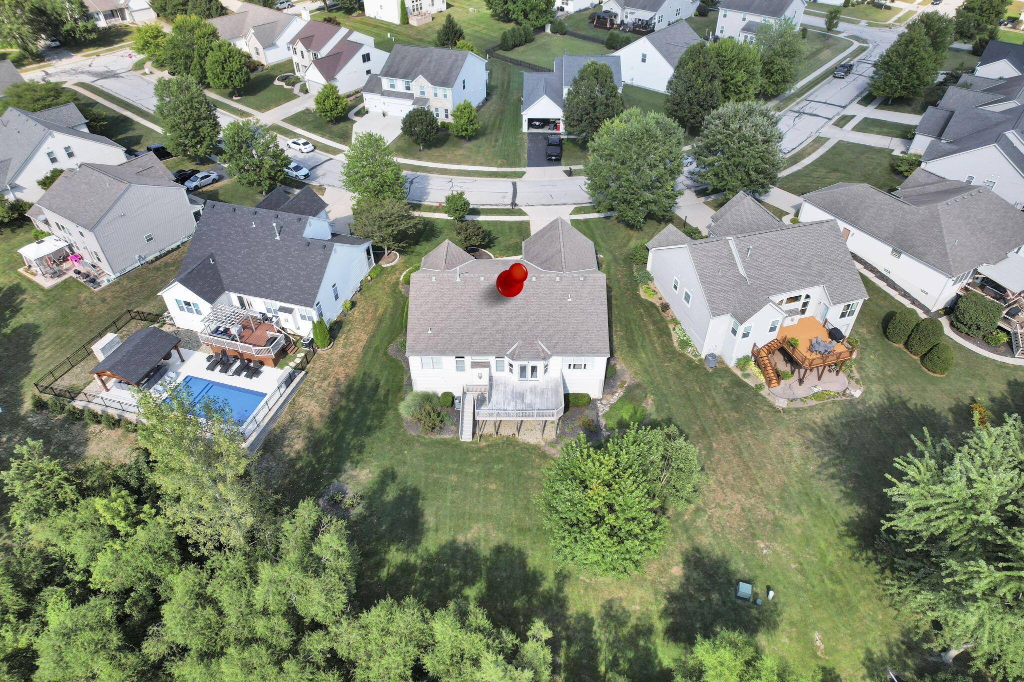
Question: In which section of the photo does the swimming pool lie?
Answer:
left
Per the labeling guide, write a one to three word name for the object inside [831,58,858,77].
vehicle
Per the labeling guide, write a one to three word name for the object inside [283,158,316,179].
car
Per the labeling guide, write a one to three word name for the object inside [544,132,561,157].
vehicle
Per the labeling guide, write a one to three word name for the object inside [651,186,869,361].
house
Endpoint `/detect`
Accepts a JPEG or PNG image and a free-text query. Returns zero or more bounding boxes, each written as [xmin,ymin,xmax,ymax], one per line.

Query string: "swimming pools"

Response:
[169,375,270,428]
